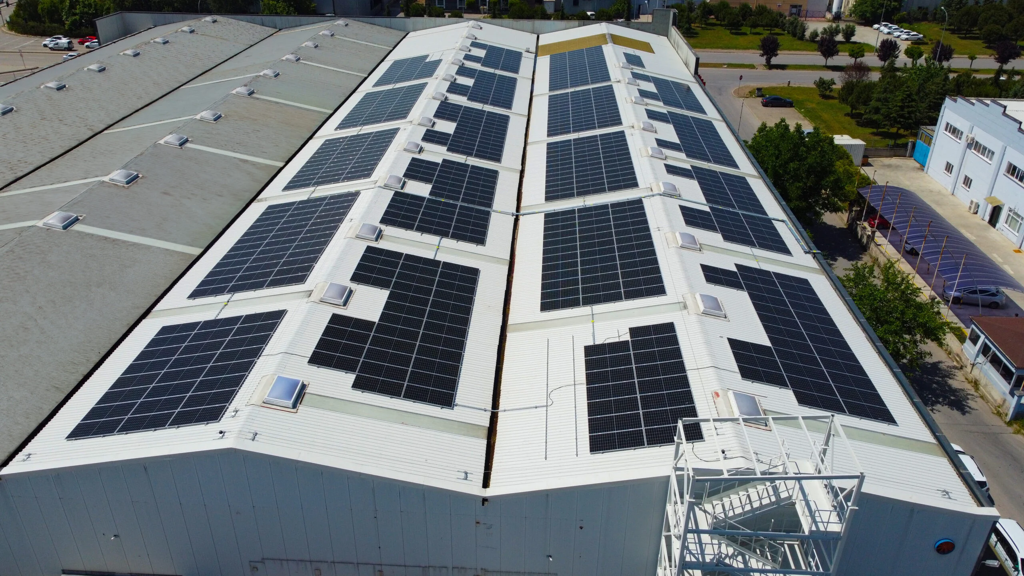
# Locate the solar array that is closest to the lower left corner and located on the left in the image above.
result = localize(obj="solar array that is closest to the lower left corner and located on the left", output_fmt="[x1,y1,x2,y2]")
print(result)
[65,310,286,442]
